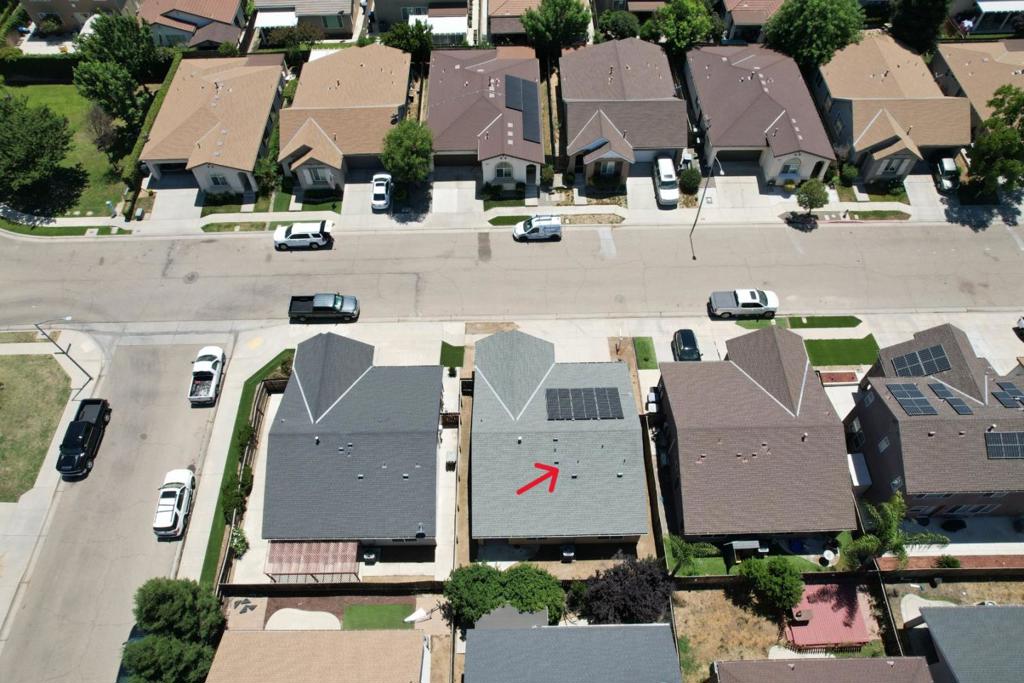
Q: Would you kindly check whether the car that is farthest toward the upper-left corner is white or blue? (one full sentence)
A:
From above, the car that is farthest toward the upper-left corner appears white.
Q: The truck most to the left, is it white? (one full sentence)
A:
No, the color of the truck most to the left is black.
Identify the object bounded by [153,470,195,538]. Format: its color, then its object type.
white car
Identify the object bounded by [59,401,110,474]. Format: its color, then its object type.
black truck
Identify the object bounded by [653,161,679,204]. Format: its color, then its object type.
white vehicle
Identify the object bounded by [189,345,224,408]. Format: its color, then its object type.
white truck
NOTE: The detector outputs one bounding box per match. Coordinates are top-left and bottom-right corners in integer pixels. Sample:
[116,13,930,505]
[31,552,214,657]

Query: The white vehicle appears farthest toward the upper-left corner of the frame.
[270,221,331,252]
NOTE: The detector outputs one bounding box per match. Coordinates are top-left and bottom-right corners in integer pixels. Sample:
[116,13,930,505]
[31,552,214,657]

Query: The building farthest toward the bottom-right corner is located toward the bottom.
[896,599,1024,683]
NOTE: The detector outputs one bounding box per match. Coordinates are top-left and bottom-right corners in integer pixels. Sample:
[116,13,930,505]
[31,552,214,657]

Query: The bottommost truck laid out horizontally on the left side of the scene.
[288,293,359,322]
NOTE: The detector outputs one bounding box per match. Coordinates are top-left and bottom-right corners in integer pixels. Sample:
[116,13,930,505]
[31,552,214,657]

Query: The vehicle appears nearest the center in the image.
[512,218,562,244]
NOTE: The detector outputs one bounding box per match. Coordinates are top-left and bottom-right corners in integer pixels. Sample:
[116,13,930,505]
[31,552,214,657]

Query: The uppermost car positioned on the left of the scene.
[370,175,393,212]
